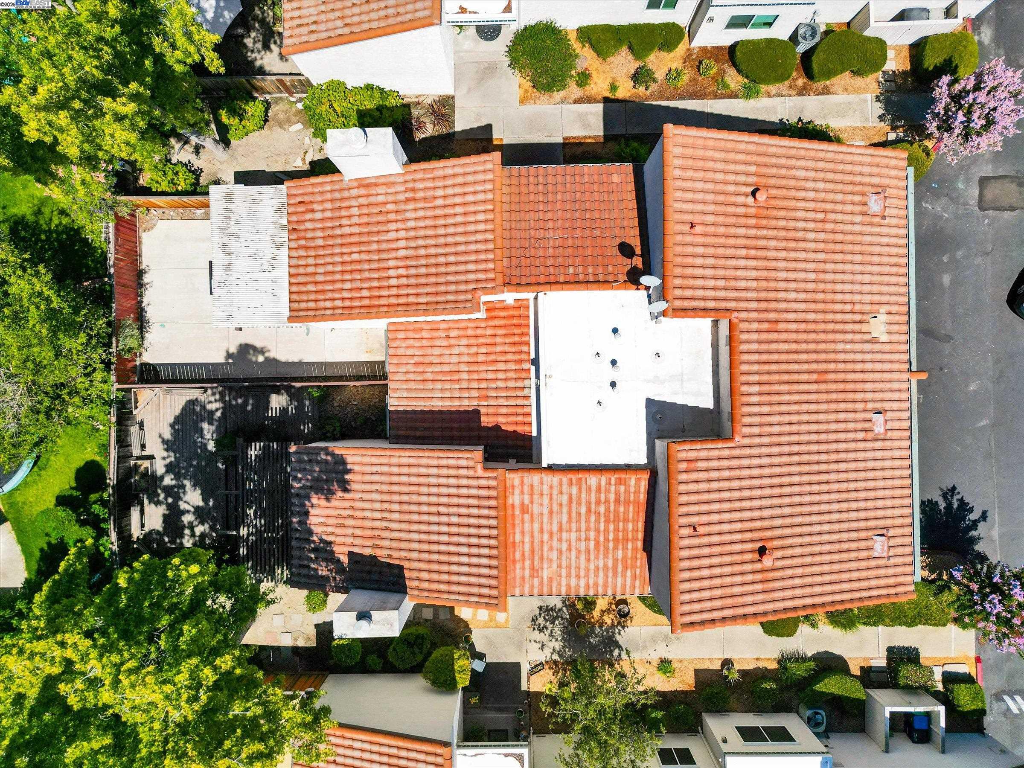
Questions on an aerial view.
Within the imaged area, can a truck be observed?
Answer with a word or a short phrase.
No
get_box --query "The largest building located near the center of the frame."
[280,119,940,638]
